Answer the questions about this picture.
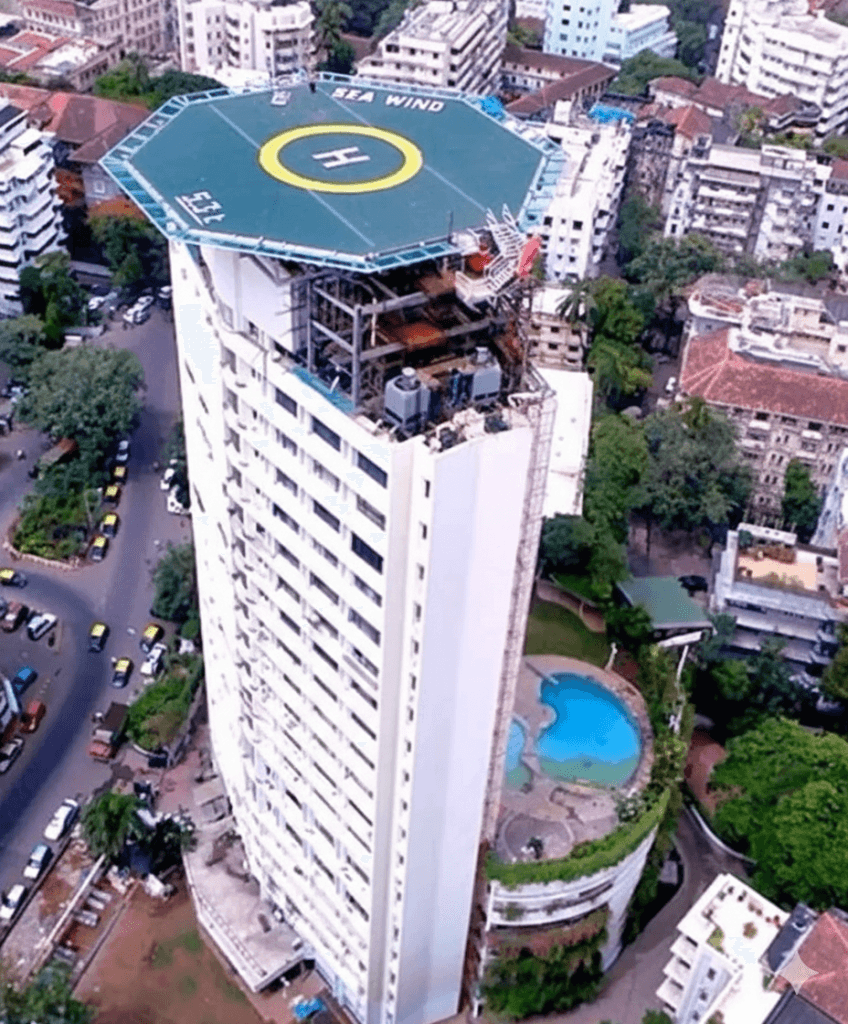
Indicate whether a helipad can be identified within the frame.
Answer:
Yes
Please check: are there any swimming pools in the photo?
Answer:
Yes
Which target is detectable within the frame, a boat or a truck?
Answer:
truck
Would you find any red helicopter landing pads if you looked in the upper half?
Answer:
No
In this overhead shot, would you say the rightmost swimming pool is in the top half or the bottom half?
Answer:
bottom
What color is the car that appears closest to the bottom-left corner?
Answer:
white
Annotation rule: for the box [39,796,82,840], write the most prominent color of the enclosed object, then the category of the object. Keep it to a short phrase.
white car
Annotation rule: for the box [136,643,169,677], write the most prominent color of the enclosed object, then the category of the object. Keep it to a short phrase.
white car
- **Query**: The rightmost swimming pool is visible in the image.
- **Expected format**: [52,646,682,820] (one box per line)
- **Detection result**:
[534,670,646,791]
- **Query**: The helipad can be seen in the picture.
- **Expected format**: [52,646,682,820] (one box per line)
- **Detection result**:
[100,69,564,404]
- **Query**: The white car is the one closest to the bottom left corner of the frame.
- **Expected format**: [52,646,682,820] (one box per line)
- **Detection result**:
[0,879,29,921]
